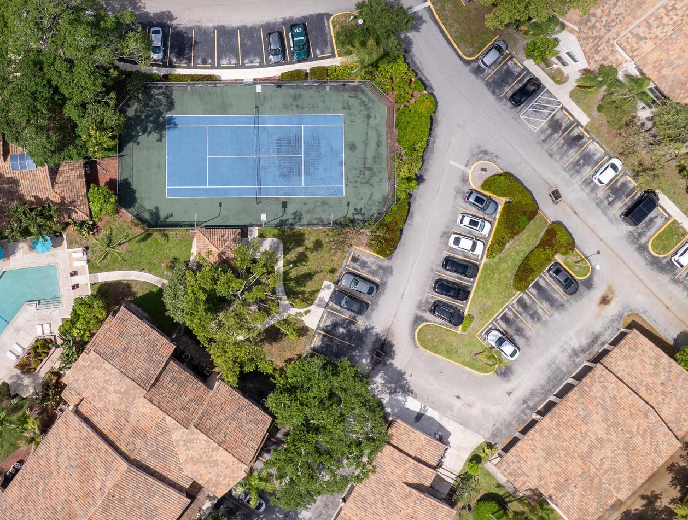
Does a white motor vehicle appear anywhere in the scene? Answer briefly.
Yes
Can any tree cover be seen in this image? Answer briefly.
Yes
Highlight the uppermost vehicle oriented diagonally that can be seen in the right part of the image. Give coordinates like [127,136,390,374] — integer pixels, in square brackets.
[478,38,510,69]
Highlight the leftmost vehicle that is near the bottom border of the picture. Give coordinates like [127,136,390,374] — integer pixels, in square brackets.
[232,487,268,515]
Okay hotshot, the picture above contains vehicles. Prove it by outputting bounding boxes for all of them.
[432,279,470,301]
[331,291,369,316]
[341,273,377,298]
[428,301,466,326]
[591,157,622,187]
[508,76,543,107]
[670,240,688,268]
[478,38,510,69]
[455,212,492,238]
[149,25,165,62]
[289,23,308,61]
[446,233,485,256]
[441,256,479,279]
[619,189,658,227]
[462,189,500,216]
[232,487,268,515]
[265,27,284,65]
[486,330,521,362]
[546,262,580,297]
